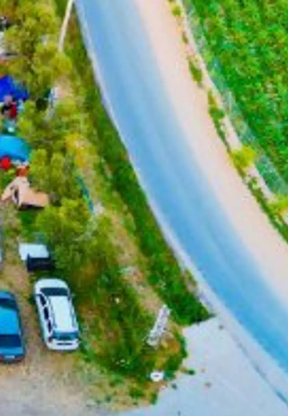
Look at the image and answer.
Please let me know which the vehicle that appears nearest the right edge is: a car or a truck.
car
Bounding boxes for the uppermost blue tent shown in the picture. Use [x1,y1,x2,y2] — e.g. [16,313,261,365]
[0,76,28,104]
